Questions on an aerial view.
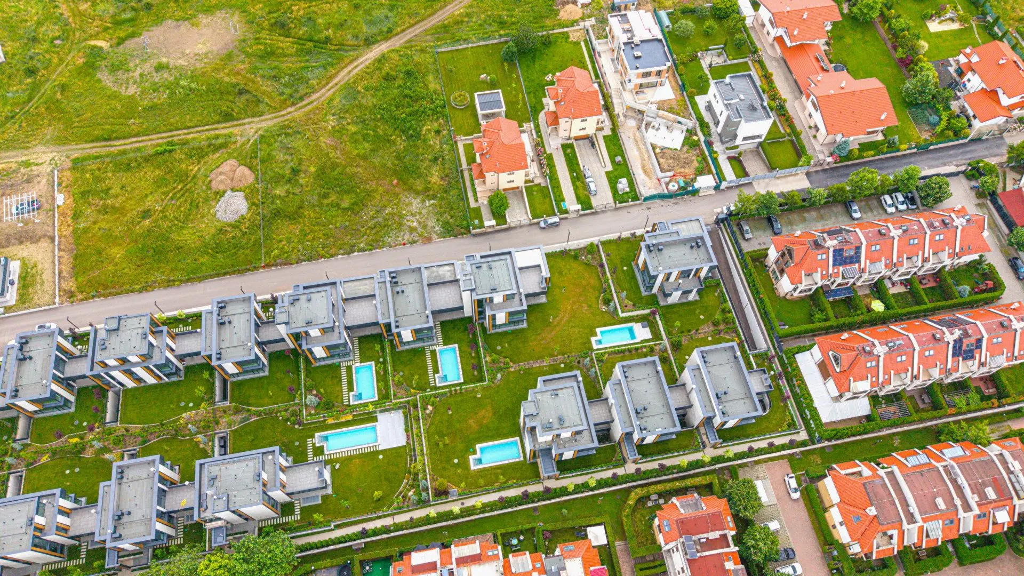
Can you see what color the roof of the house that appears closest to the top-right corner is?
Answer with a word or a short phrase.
orange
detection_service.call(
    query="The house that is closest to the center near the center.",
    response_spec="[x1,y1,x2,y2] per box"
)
[463,245,550,336]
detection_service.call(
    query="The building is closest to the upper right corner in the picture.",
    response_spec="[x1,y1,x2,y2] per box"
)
[949,40,1024,130]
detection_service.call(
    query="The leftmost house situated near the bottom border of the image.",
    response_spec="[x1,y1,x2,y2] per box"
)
[0,489,98,571]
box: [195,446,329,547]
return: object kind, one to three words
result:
house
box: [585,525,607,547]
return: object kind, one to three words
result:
gazebo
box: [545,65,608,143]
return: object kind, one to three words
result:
house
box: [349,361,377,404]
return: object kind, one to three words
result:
swimming pool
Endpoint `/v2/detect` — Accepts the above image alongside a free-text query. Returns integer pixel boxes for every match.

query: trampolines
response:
[832,63,846,73]
[333,562,354,576]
